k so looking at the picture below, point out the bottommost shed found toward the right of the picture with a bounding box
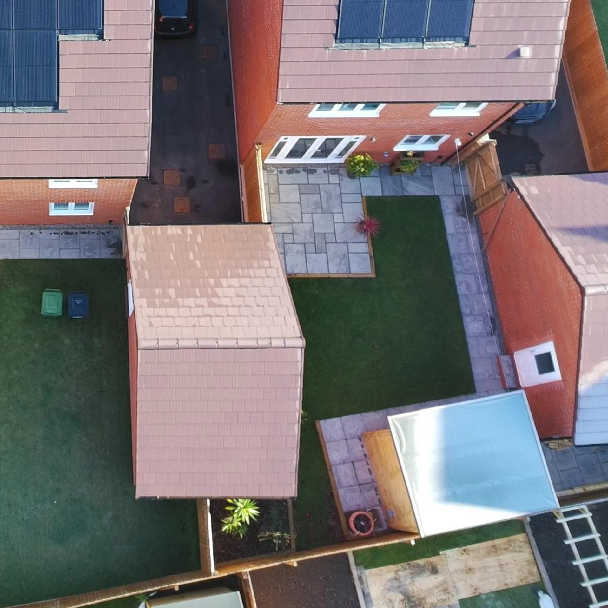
[361,384,564,540]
